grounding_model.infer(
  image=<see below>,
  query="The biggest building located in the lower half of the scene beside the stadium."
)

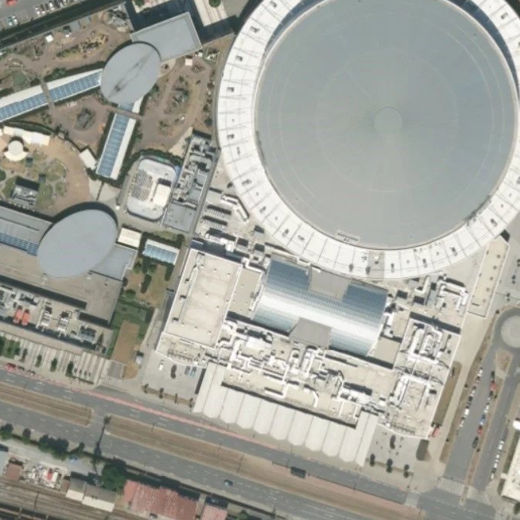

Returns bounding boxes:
[155,179,510,467]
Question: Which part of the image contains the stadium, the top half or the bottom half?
top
